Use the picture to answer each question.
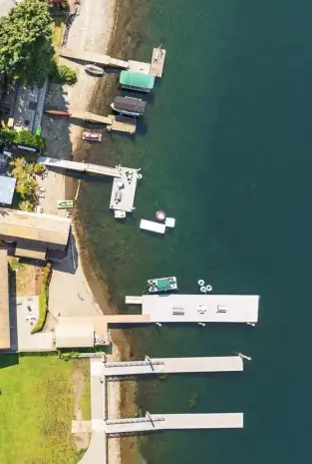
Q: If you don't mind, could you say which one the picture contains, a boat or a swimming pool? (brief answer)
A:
boat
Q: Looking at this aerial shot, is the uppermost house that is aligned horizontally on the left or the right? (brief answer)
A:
left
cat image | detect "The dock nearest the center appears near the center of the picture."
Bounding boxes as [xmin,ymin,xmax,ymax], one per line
[110,165,141,212]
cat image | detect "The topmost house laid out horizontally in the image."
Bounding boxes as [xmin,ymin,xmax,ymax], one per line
[0,209,72,247]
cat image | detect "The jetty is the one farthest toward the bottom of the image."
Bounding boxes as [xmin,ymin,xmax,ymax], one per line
[104,412,243,432]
